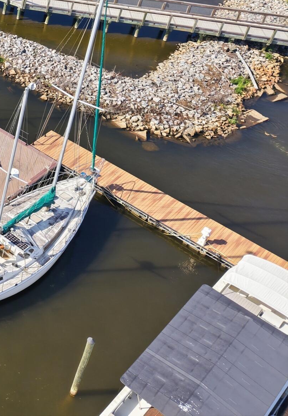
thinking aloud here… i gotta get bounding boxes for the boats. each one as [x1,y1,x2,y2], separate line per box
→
[0,0,108,305]
[86,252,288,416]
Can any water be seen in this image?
Yes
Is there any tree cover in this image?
No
